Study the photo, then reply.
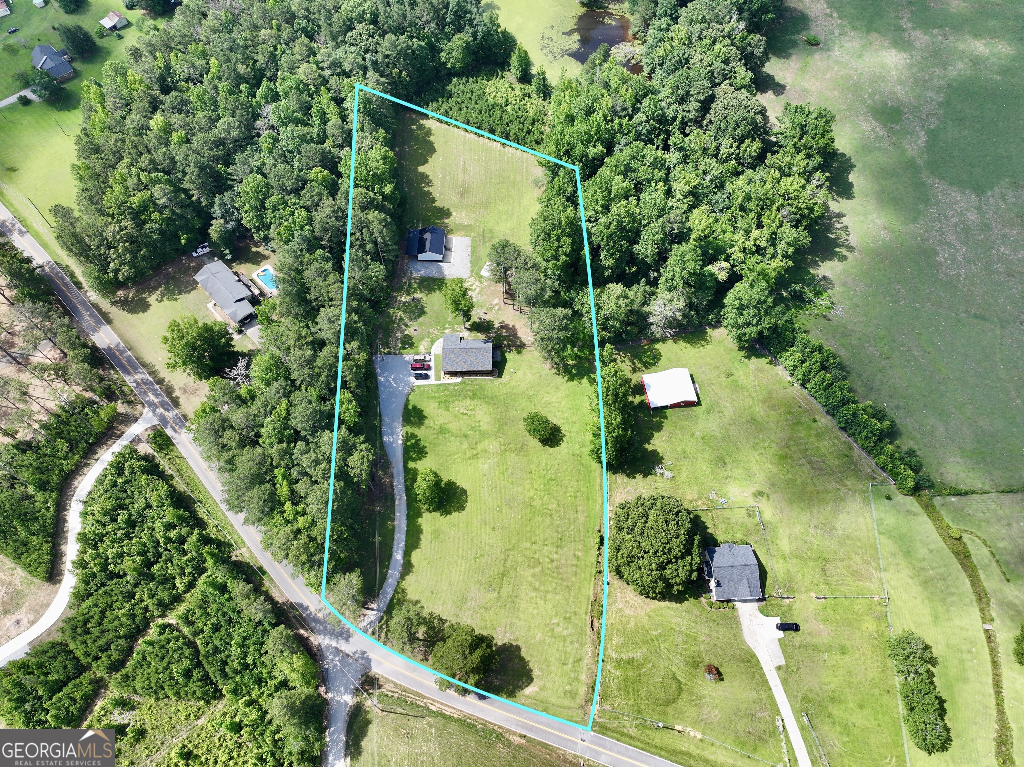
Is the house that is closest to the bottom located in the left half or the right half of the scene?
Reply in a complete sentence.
You can find the house that is closest to the bottom on the right side of the picture.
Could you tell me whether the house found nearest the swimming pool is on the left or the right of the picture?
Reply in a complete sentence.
It is on the left.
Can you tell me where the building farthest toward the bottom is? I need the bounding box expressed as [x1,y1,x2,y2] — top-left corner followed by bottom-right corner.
[702,543,762,602]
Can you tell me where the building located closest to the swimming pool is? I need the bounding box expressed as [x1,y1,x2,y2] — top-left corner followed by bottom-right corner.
[192,261,263,327]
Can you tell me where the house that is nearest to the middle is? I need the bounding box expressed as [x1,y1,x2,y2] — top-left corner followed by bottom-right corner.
[442,334,492,380]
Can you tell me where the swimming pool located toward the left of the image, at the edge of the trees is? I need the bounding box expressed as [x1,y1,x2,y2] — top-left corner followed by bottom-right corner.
[252,264,282,295]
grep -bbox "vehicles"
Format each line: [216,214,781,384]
[7,28,20,34]
[413,355,430,363]
[245,315,254,322]
[411,363,430,372]
[192,245,212,258]
[413,372,429,381]
[771,622,800,633]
